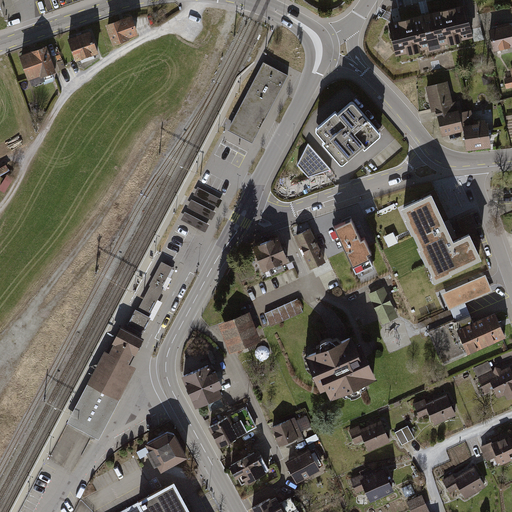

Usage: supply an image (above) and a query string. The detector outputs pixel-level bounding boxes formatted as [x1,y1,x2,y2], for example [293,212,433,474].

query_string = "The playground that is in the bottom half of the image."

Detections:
[382,314,426,352]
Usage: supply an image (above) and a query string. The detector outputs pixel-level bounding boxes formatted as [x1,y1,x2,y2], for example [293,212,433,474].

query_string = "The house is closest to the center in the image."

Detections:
[255,239,294,277]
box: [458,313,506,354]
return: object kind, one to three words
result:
house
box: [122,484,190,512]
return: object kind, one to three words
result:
building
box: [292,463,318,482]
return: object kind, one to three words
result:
solar panel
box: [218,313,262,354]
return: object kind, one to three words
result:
barn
